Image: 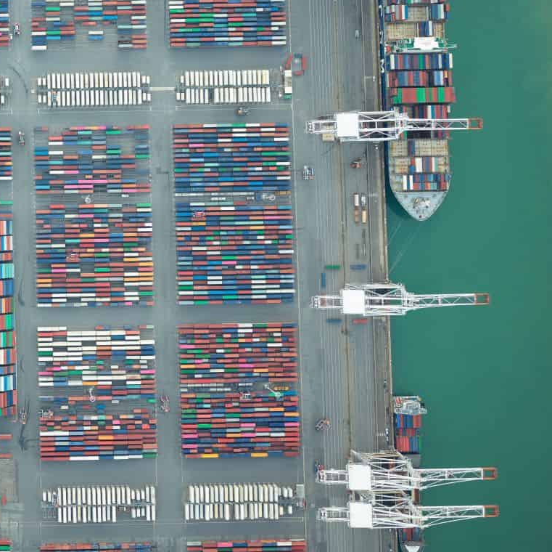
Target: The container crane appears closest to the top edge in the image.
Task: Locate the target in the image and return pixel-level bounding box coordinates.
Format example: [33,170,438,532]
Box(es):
[304,110,486,146]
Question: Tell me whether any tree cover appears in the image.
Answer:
No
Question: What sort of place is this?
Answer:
port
